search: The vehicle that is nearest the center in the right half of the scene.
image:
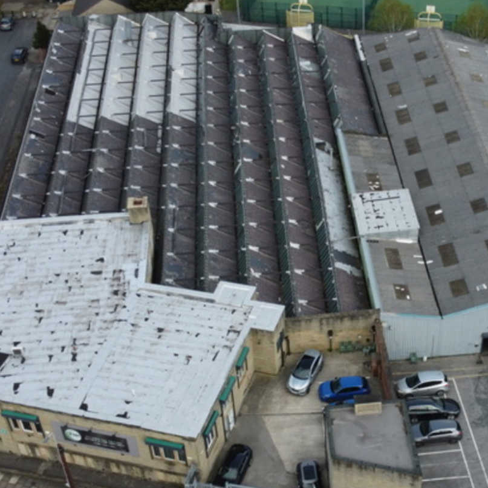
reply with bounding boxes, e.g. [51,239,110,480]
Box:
[286,347,324,392]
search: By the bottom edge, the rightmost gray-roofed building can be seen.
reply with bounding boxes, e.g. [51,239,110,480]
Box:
[324,399,423,488]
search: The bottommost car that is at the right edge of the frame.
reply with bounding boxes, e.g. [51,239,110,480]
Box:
[413,423,466,453]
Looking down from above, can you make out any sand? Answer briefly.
No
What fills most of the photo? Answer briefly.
buildings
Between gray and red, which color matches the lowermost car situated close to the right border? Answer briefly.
gray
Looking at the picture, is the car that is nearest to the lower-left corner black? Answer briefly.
Yes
